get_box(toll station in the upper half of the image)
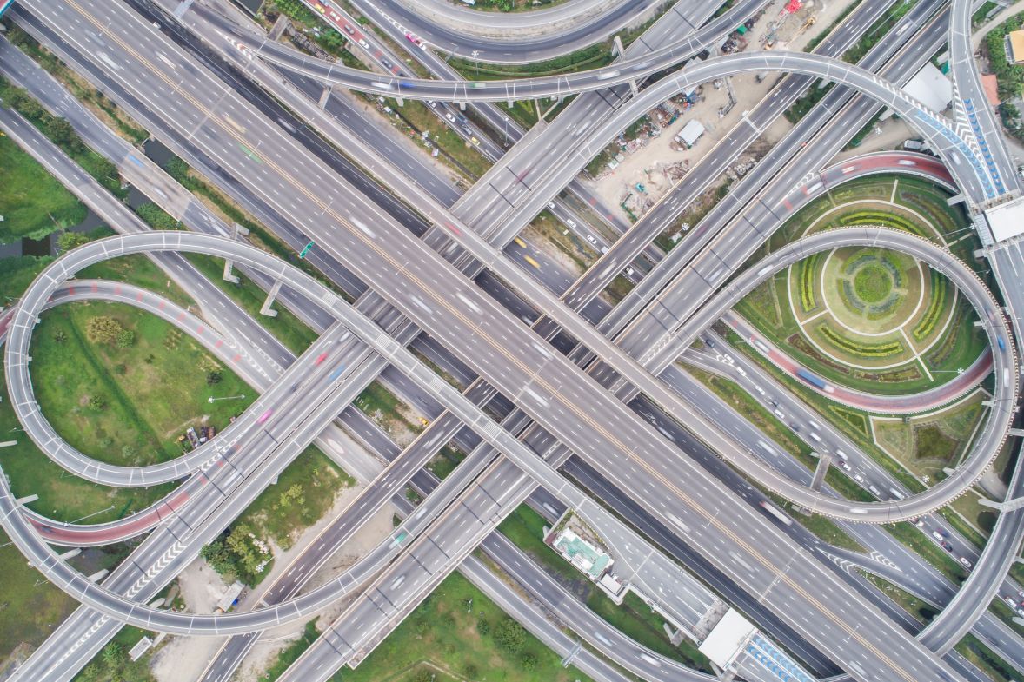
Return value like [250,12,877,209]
[957,173,1024,361]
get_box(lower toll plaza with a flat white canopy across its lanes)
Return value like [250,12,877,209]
[542,495,821,682]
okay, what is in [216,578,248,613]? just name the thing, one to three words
shed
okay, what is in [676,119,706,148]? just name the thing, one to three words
shed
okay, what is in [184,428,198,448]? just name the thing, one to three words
vehicle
